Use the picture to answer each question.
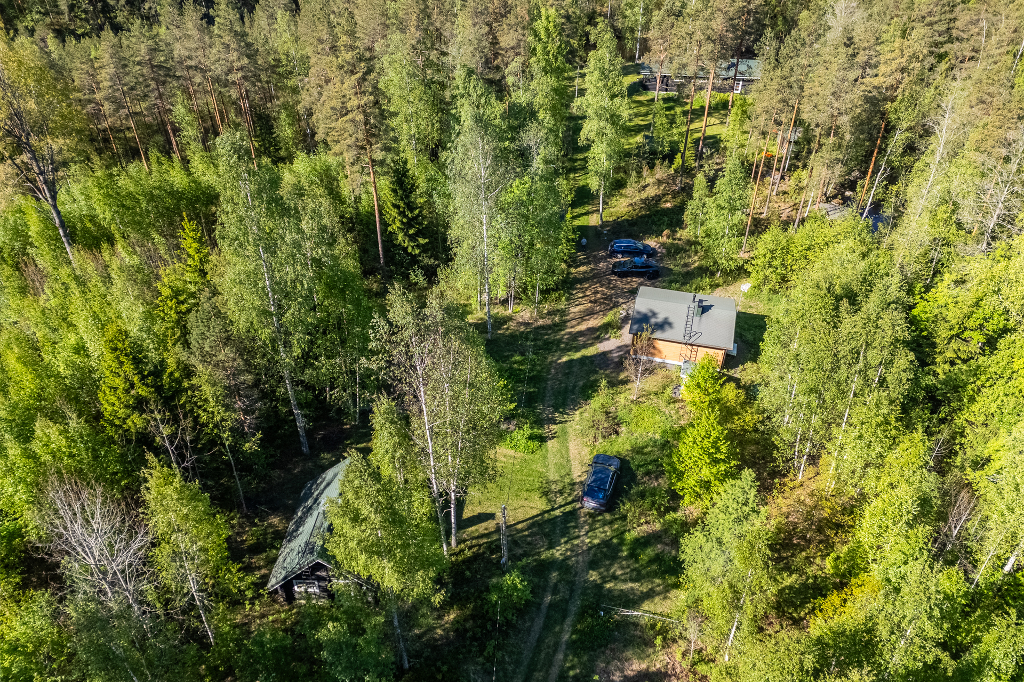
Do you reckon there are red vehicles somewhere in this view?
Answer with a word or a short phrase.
No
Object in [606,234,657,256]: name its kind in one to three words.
car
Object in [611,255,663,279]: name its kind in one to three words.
car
